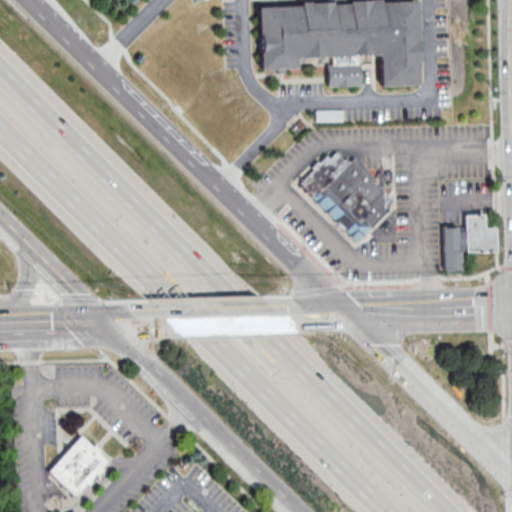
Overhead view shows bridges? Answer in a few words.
Yes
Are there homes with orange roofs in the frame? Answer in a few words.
No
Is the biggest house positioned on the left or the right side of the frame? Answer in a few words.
right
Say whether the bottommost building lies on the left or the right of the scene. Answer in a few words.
left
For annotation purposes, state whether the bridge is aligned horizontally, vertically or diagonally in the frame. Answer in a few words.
horizontally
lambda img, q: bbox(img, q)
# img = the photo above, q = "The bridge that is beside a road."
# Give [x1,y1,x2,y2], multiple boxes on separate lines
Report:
[100,294,346,344]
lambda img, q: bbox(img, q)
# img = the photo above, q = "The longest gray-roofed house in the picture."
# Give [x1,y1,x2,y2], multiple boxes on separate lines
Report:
[258,2,422,87]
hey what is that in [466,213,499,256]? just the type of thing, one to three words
building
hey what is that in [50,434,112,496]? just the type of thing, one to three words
building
